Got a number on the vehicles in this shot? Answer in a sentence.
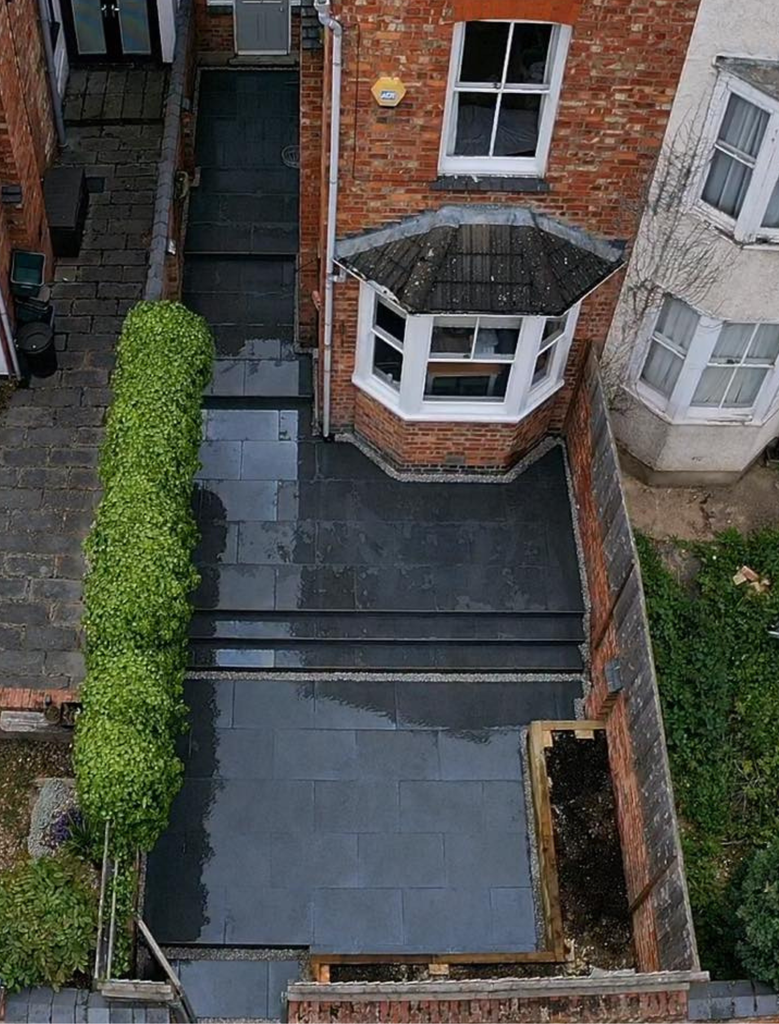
There are no vehicles in this view.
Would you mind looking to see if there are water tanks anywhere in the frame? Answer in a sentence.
No, there is no water tank in the image.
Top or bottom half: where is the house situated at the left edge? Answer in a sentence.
The house situated at the left edge is in the top half of the image.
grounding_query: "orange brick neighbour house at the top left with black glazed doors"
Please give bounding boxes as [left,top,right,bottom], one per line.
[0,0,179,377]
